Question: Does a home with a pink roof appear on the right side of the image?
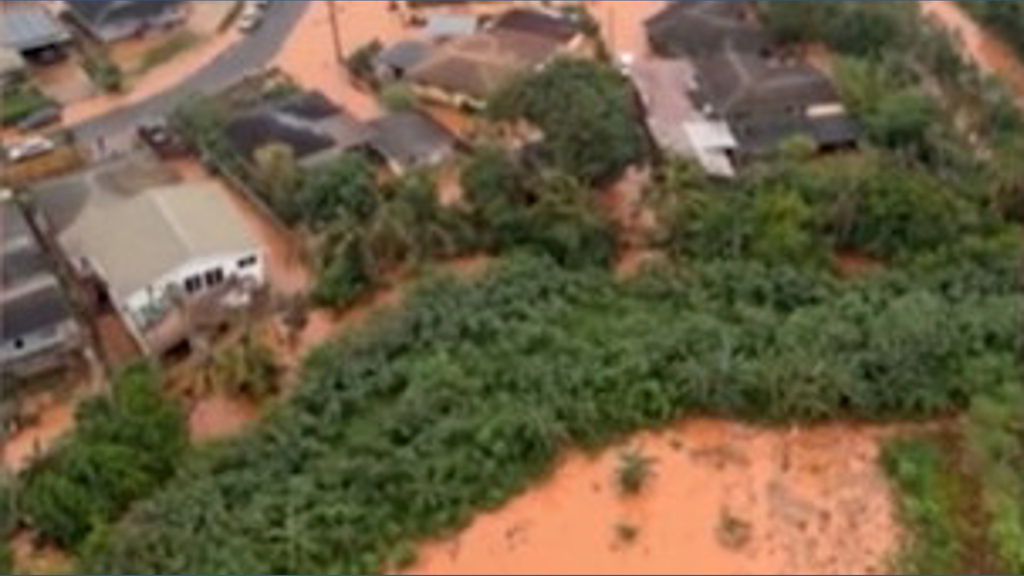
No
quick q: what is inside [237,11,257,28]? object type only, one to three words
car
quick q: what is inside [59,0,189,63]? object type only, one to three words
house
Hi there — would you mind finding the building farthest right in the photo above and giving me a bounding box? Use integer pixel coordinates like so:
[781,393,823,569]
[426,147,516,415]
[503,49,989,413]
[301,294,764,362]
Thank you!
[644,0,860,168]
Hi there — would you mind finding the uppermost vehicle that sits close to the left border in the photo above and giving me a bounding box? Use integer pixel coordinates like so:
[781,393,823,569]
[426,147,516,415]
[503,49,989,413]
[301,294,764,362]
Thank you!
[29,45,56,66]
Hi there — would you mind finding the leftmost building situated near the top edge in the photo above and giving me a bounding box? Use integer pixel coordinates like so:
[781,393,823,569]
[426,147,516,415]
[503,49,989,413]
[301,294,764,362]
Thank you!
[0,5,82,70]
